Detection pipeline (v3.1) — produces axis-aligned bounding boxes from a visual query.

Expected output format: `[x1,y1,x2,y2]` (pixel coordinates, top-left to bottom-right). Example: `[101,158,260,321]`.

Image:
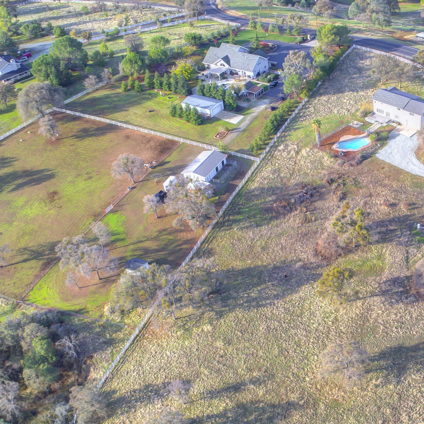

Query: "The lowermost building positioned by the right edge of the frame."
[372,84,424,128]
